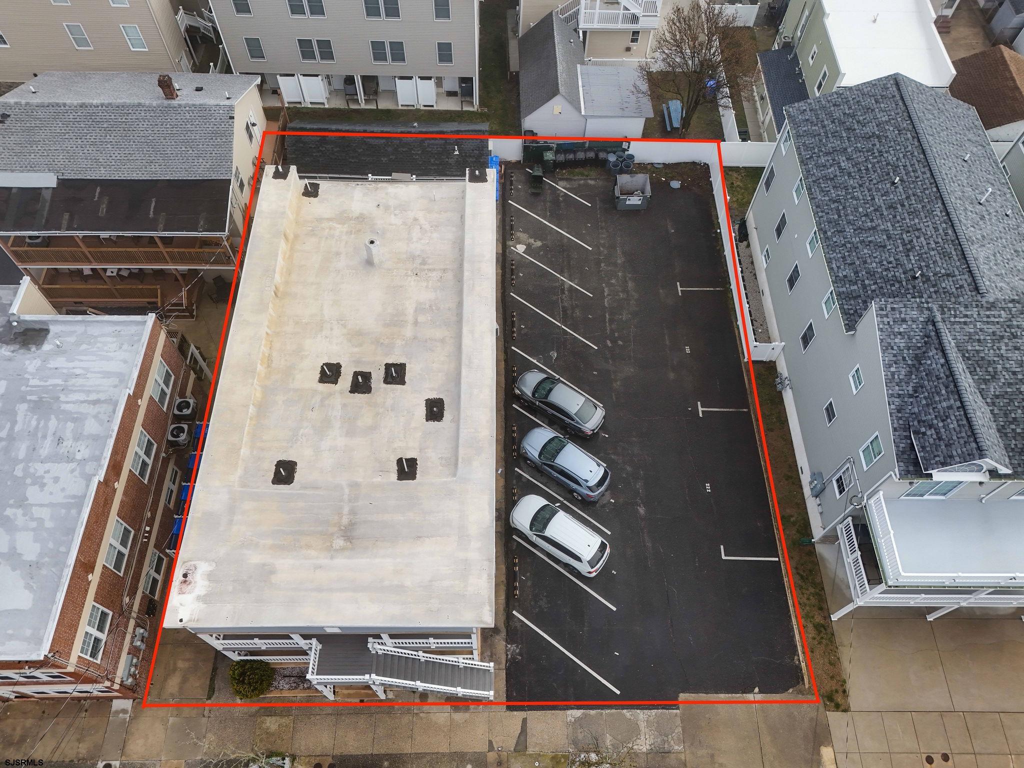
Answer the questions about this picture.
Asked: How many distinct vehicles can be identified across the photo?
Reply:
3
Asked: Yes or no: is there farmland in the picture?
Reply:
No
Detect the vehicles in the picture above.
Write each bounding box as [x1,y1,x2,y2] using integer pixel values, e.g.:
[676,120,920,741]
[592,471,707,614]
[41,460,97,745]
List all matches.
[511,496,607,577]
[514,371,603,437]
[521,430,609,501]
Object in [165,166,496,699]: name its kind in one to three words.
house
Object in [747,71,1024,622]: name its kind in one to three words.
house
